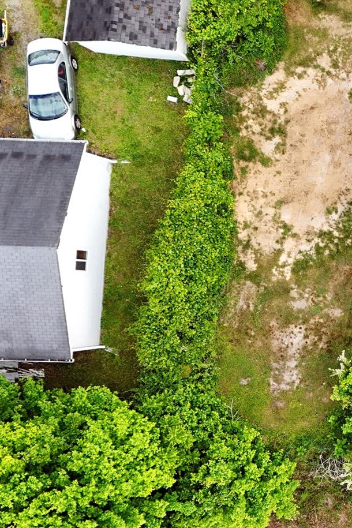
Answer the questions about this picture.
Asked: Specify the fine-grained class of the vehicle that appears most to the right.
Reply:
automobile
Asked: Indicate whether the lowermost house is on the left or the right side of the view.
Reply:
left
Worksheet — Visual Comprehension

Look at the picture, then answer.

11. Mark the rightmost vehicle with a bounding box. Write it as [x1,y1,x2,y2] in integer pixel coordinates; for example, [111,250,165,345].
[23,40,83,137]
